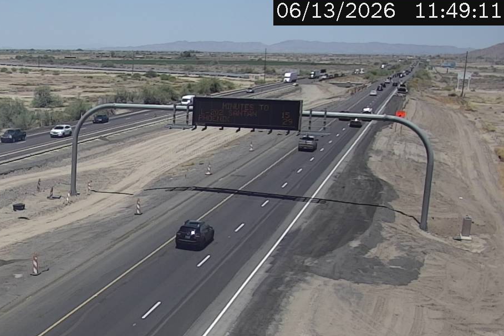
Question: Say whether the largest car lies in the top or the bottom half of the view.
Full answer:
The bottom half of the photo is where the largest car is.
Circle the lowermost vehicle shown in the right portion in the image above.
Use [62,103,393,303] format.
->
[299,134,322,151]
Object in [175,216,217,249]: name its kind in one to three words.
car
